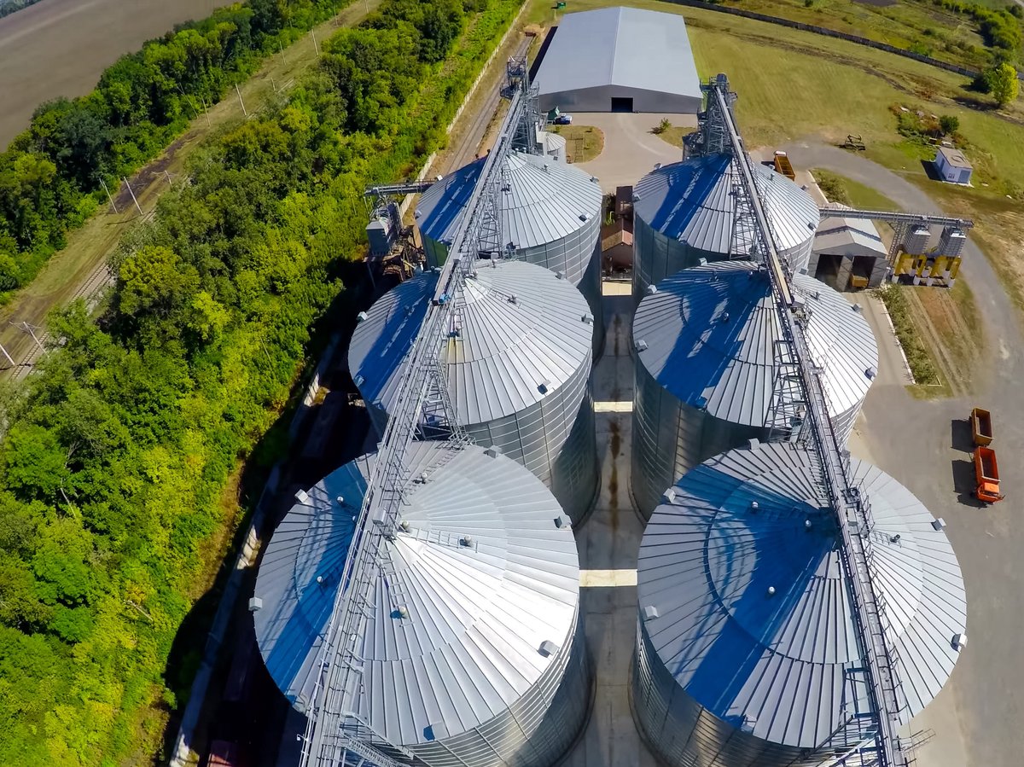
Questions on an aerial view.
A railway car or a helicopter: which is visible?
railway car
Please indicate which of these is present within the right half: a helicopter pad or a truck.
truck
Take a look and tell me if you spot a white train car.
No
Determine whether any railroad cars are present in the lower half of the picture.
Yes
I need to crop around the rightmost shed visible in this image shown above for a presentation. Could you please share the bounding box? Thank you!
[924,145,973,186]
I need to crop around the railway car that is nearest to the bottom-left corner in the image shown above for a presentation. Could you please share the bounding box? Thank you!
[206,740,258,767]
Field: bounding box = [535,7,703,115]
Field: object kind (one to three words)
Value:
building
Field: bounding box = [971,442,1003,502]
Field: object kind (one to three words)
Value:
truck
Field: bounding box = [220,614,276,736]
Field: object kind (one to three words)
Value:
rail car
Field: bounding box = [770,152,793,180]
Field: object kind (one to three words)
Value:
truck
